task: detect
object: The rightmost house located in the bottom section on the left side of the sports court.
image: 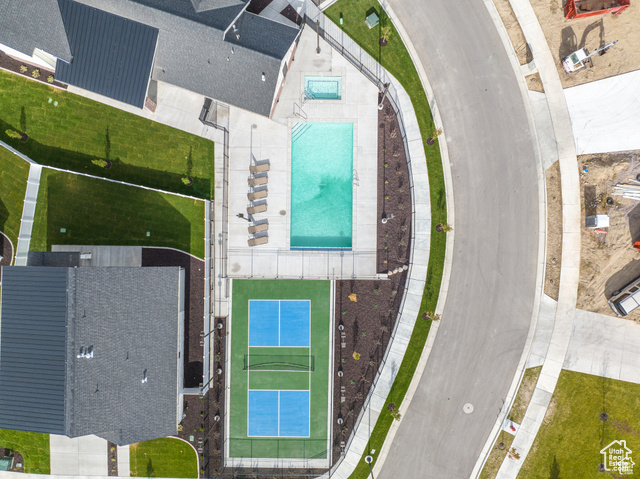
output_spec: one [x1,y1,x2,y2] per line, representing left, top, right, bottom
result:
[1,252,186,446]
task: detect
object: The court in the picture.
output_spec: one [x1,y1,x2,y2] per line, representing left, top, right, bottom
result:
[231,281,330,458]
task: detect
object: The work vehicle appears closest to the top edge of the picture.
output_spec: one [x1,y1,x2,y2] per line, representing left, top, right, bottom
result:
[561,39,622,75]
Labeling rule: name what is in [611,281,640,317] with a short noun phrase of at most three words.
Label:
van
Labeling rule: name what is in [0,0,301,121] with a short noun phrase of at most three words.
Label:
building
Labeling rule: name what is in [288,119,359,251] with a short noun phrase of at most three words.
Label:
swimming pool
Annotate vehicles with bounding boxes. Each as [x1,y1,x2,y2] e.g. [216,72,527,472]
[561,39,622,75]
[611,281,640,317]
